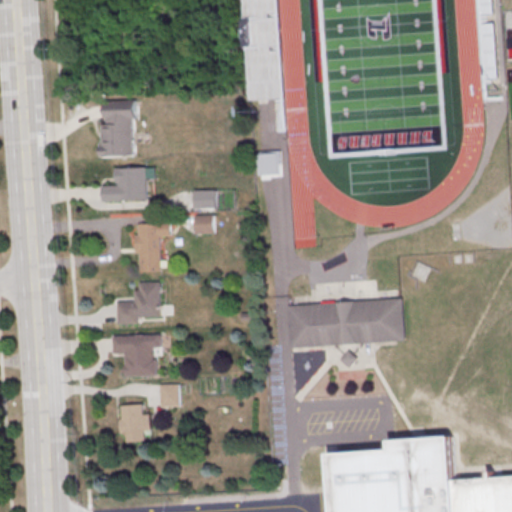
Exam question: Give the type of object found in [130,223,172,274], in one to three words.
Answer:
house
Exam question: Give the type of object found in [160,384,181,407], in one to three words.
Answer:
building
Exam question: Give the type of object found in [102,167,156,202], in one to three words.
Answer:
house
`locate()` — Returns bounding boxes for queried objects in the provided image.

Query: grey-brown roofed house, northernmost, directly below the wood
[98,100,140,156]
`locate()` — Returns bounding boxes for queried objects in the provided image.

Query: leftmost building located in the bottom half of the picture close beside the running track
[288,298,406,346]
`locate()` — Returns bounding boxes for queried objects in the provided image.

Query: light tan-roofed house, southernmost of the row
[118,404,154,443]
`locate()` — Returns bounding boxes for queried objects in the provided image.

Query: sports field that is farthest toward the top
[311,0,455,160]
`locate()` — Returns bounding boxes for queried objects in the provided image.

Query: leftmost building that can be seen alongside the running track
[256,150,286,181]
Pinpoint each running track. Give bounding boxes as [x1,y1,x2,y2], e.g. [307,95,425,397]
[278,0,484,250]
